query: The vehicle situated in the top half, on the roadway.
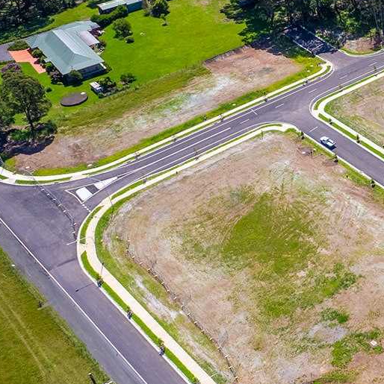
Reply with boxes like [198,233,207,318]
[317,134,336,147]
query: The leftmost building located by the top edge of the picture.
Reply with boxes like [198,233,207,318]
[25,18,106,82]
